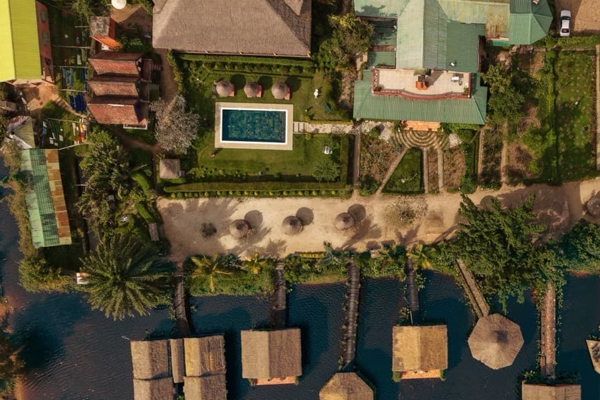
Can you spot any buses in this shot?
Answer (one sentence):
No, the scene contains no bus.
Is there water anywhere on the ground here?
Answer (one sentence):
Yes, some water is visible.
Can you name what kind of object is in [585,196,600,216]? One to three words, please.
umbrella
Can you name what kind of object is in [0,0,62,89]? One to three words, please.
house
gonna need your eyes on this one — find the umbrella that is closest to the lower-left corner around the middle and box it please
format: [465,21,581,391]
[231,217,251,238]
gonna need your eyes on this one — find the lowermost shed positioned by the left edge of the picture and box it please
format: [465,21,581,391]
[21,150,79,247]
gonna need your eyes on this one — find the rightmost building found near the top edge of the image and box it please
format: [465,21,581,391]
[353,0,552,125]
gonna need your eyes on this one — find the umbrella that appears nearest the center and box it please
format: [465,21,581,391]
[282,214,303,235]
